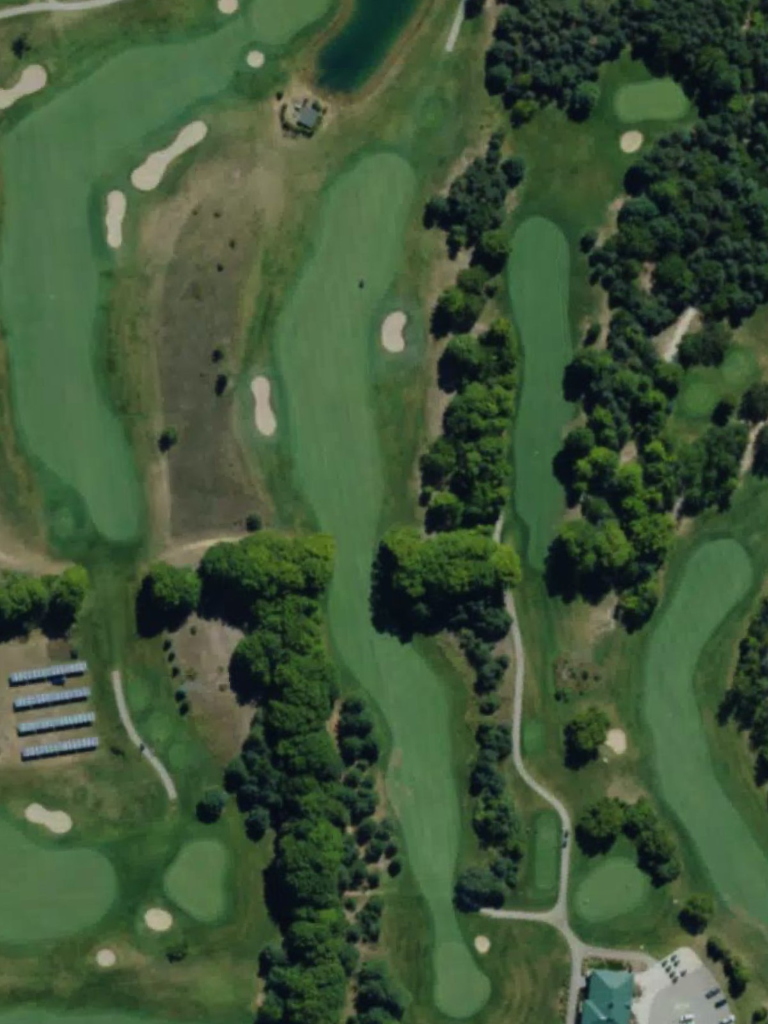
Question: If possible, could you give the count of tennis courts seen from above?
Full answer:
The photo contains no tennis courts.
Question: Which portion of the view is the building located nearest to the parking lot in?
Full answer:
The building located nearest to the parking lot sits in the bottom right section of the image.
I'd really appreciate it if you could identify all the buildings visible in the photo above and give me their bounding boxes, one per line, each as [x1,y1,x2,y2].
[583,971,635,1024]
[299,108,316,126]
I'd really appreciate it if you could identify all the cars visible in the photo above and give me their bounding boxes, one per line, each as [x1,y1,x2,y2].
[680,1014,695,1021]
[715,999,728,1009]
[722,1015,735,1024]
[706,988,720,999]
